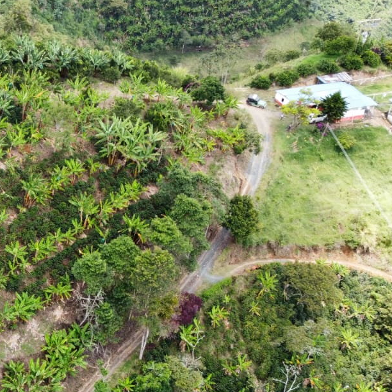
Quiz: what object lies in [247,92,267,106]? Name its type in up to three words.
car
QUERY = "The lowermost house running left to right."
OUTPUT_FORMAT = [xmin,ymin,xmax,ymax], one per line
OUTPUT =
[275,80,378,123]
